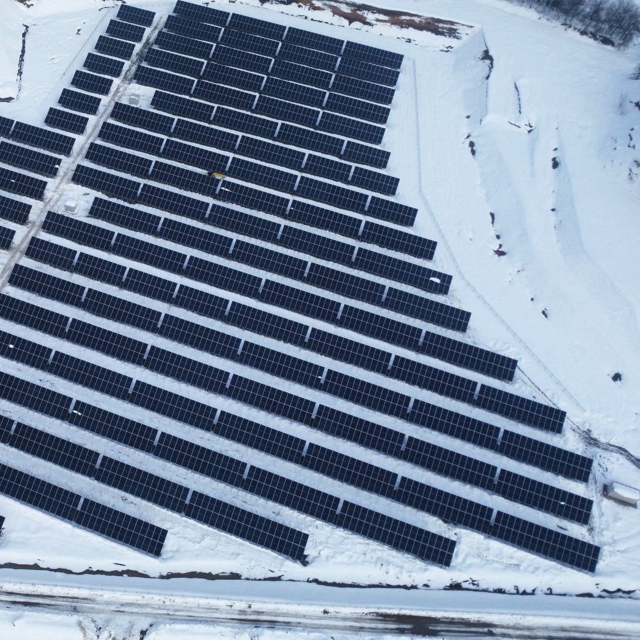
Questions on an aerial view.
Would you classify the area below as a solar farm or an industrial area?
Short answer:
solar farm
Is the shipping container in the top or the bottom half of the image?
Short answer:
bottom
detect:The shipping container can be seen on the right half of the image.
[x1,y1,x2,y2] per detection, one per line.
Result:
[603,481,640,509]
